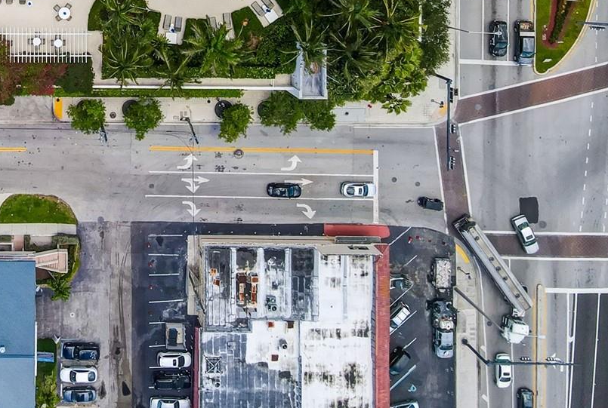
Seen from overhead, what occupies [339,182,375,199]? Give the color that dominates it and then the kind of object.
white car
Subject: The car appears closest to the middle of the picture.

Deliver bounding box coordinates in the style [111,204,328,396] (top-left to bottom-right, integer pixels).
[266,182,301,198]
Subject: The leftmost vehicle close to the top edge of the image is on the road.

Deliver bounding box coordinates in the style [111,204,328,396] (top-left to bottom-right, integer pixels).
[488,19,510,58]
